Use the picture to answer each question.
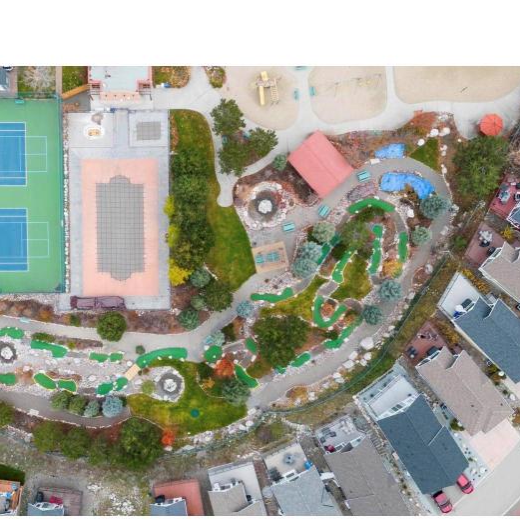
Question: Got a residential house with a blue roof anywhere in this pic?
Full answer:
Yes, there is a residential house with a blue roof in the image.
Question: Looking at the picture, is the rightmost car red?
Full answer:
Yes, the rightmost car is red.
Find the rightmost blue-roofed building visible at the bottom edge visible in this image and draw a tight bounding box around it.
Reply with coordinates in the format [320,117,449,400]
[354,360,465,495]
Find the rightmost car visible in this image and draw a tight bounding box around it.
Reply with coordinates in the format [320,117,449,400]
[454,471,475,496]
